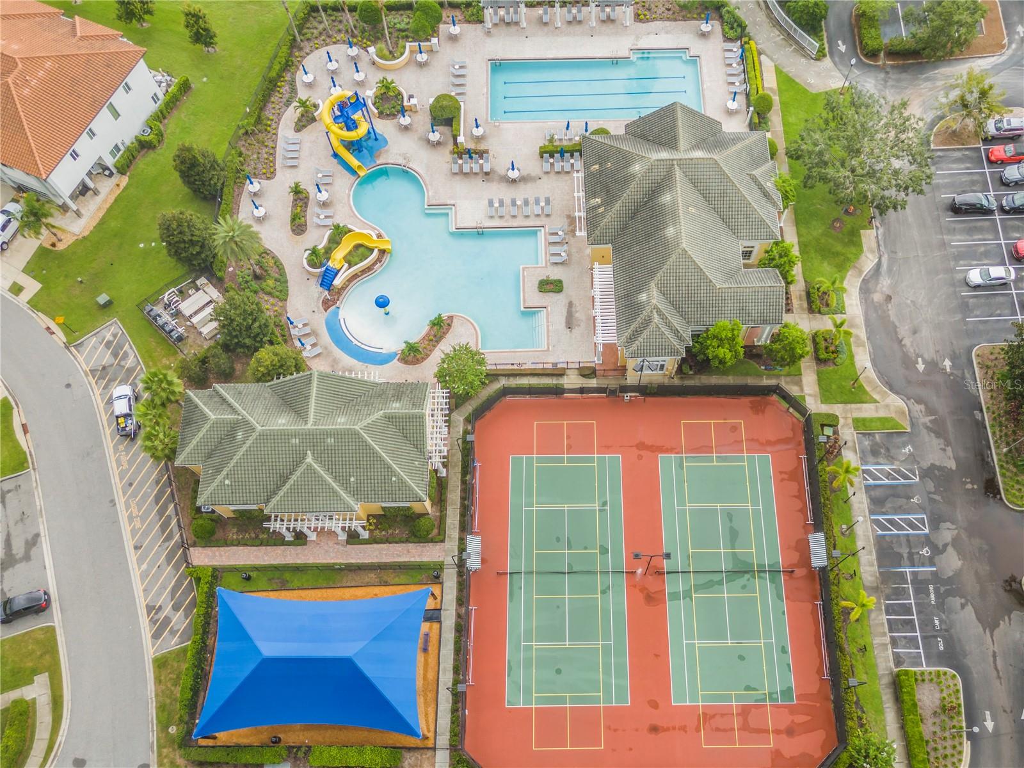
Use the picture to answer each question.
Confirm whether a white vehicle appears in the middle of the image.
No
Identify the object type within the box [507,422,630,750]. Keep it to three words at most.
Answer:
tennis court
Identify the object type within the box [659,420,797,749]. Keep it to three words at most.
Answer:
tennis court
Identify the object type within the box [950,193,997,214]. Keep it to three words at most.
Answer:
car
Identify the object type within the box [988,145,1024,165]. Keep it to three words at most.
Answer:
car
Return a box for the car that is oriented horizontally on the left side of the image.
[0,593,51,621]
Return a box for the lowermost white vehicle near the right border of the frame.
[965,266,1015,287]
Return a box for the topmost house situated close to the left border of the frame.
[0,0,159,204]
